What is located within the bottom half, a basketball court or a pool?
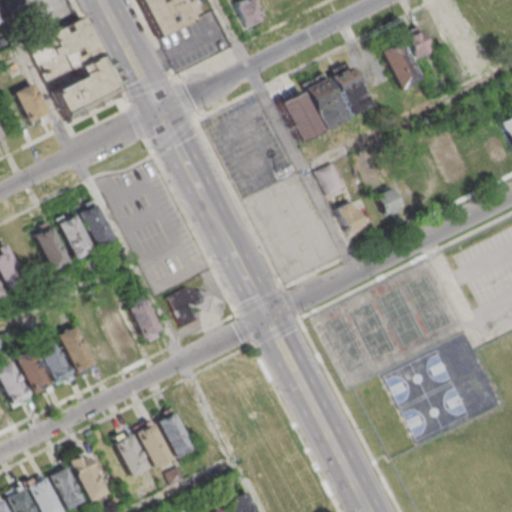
basketball court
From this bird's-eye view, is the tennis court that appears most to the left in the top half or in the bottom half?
bottom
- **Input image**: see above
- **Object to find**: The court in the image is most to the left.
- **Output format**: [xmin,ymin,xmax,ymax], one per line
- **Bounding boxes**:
[323,316,367,375]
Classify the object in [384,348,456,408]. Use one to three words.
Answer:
basketball court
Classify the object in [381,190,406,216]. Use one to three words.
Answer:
shed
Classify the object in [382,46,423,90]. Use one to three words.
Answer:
house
